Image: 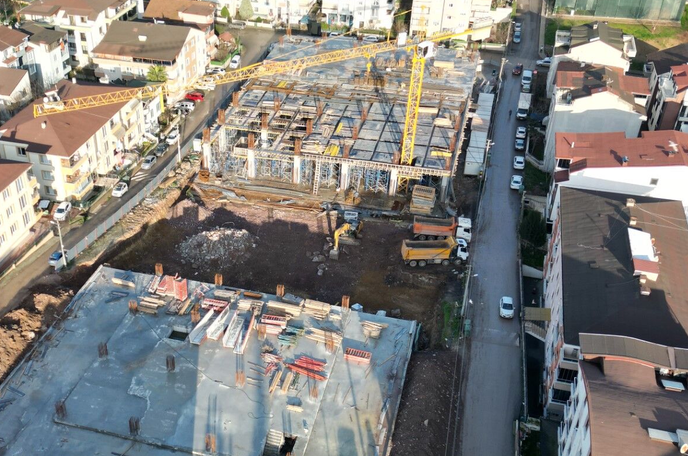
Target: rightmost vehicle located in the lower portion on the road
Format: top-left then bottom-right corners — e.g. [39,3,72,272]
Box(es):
[499,292,516,318]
